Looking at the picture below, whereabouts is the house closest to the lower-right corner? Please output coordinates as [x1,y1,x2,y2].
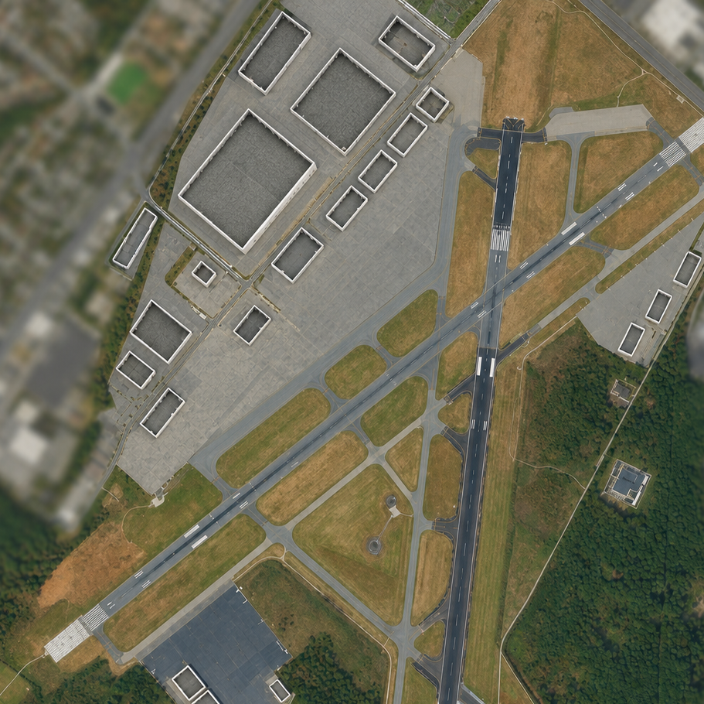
[606,462,649,505]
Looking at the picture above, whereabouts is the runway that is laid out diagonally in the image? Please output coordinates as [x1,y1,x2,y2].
[81,142,683,631]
